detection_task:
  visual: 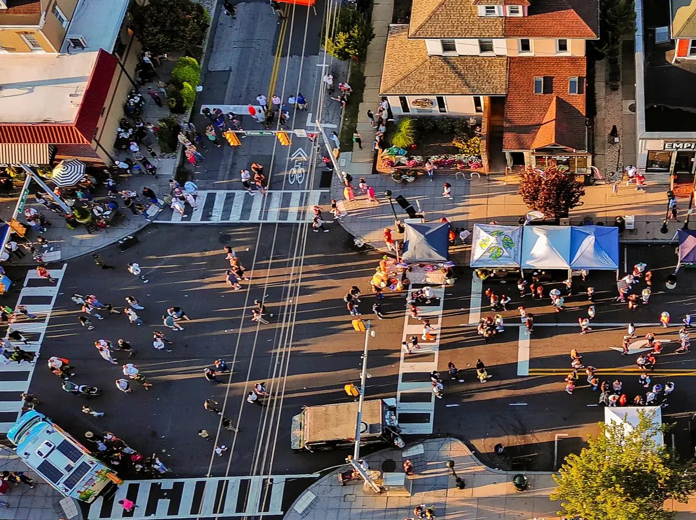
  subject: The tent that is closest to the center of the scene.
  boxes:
[403,227,452,274]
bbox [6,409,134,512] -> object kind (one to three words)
truck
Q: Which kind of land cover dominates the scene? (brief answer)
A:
paved ground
